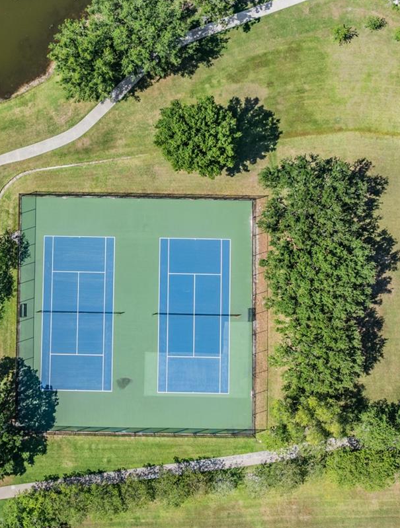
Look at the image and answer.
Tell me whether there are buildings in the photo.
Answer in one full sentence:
No, I can't see a single building in this photo.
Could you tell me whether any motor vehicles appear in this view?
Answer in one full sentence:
No, there is no motor vehicle in the image.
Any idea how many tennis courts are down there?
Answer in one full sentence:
I count 2 tennis courts.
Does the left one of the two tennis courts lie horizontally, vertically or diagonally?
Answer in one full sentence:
What the image shows is the left one of the two tennis courts lying vertically.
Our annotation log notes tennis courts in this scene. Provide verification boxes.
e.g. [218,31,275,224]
[155,238,239,395]
[40,236,115,392]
